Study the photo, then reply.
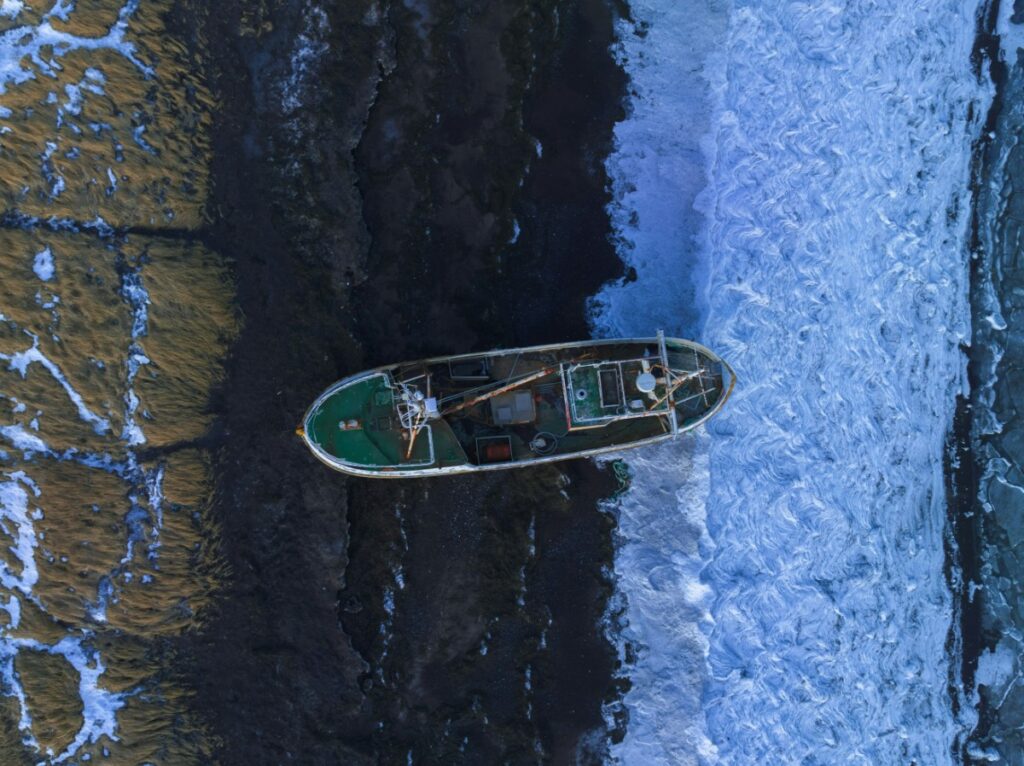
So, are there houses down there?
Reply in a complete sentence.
No, I find no house anywhere in the image.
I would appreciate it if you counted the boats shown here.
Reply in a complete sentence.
The count comes to 1 boat.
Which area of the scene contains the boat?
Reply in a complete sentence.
The boat is in the center part of the image.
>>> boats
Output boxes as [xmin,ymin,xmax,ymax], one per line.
[296,329,736,478]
